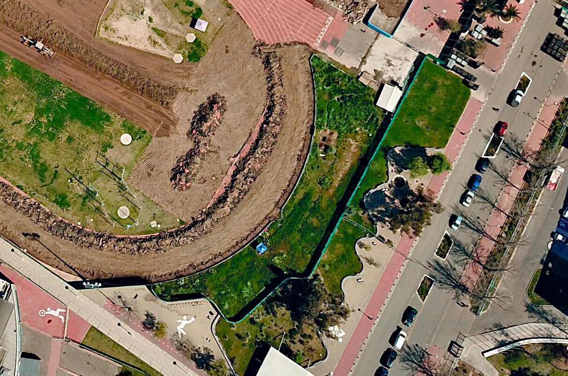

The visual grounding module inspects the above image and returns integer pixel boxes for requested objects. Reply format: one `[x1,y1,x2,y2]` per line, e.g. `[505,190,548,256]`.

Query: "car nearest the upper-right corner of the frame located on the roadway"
[511,89,526,108]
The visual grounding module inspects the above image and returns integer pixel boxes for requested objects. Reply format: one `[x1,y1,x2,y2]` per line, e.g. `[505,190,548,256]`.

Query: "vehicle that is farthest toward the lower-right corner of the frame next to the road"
[552,232,568,247]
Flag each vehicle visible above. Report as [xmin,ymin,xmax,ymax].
[462,190,474,208]
[382,349,397,368]
[450,215,463,231]
[468,174,481,190]
[552,232,568,247]
[563,210,568,219]
[394,329,407,351]
[498,121,507,137]
[22,37,57,61]
[511,89,526,108]
[477,156,490,174]
[402,307,417,326]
